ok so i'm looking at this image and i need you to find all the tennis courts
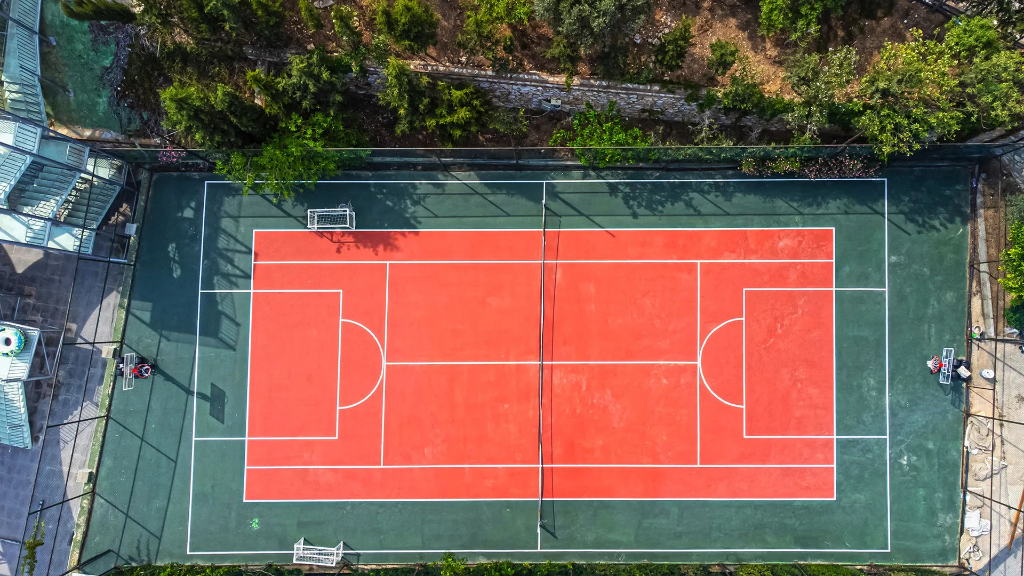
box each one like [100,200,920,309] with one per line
[67,166,975,567]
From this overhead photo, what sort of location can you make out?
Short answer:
sports ground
